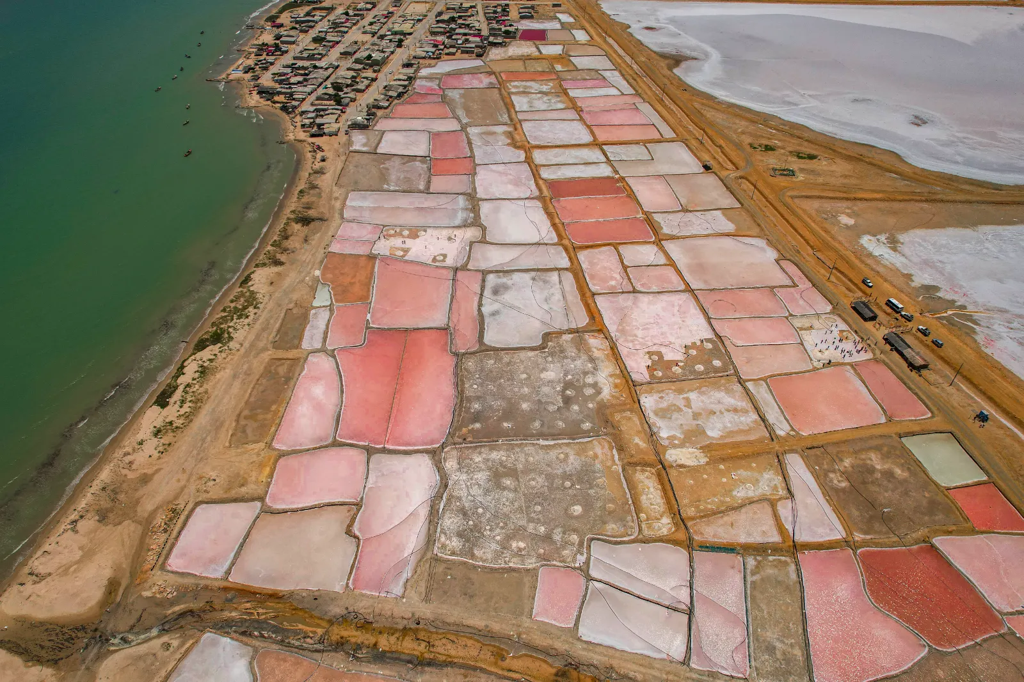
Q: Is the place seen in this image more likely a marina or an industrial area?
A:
marina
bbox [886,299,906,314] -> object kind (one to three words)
vehicle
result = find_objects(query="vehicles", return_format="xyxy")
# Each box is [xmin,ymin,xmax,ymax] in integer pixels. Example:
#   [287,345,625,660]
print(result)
[862,279,874,289]
[886,299,906,314]
[917,326,933,337]
[931,339,946,349]
[900,312,915,322]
